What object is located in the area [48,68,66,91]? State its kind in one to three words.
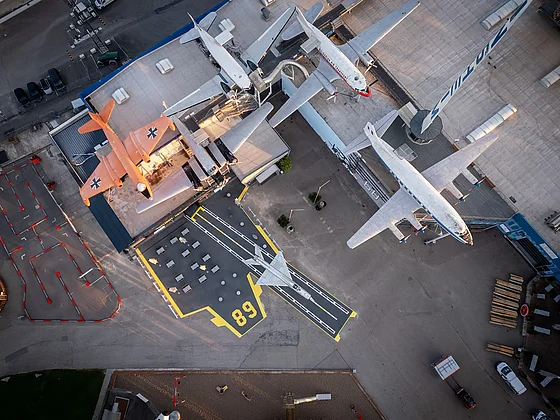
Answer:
car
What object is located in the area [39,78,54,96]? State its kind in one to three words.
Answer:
car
